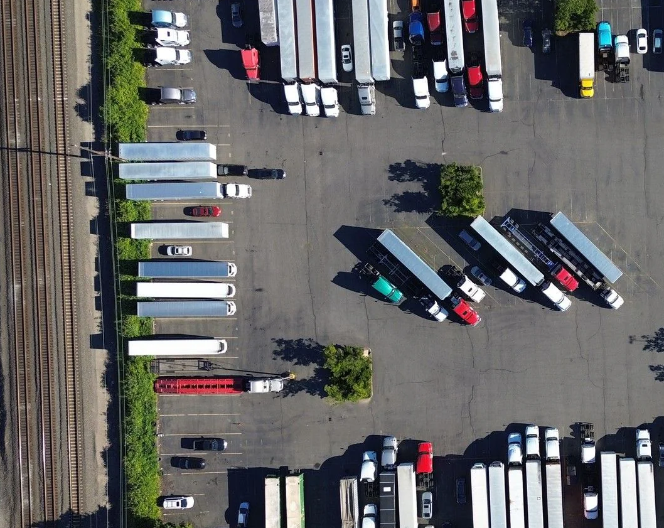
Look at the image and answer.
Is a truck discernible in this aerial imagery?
Yes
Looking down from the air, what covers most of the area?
paved ground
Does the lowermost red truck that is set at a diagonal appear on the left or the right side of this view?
right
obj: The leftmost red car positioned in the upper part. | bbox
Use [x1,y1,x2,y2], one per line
[192,205,221,218]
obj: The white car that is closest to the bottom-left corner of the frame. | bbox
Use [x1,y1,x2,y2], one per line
[162,495,194,509]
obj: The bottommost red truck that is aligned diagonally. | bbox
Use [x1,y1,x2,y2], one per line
[446,293,482,328]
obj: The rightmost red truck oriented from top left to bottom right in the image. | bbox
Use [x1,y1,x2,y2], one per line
[539,254,578,293]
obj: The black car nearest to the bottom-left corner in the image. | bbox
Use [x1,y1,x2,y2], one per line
[174,456,206,469]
